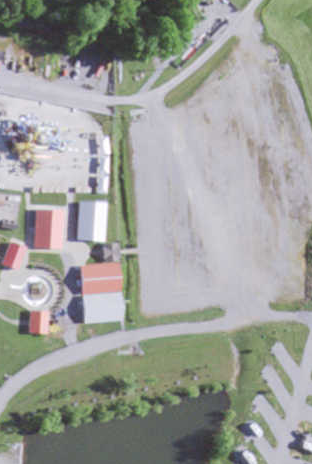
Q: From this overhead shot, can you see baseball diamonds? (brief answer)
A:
No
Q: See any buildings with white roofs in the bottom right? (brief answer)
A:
No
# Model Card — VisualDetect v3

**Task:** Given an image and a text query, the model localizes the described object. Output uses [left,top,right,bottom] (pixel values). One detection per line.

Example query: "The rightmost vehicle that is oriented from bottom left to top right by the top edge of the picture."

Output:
[208,18,227,36]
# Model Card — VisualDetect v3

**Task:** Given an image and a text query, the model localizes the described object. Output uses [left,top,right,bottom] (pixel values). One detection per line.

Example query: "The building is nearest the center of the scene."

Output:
[102,243,120,262]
